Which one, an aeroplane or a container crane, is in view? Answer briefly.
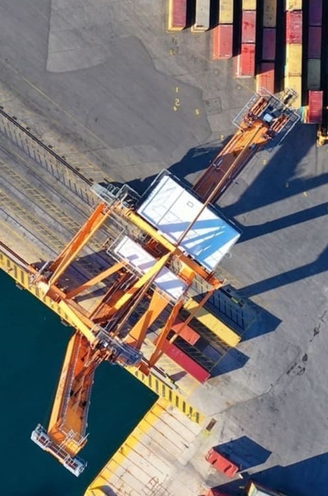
container crane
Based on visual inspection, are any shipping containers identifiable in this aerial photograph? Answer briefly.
Yes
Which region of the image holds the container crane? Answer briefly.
center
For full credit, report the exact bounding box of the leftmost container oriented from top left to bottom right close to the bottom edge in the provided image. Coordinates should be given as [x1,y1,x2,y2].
[204,443,239,474]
